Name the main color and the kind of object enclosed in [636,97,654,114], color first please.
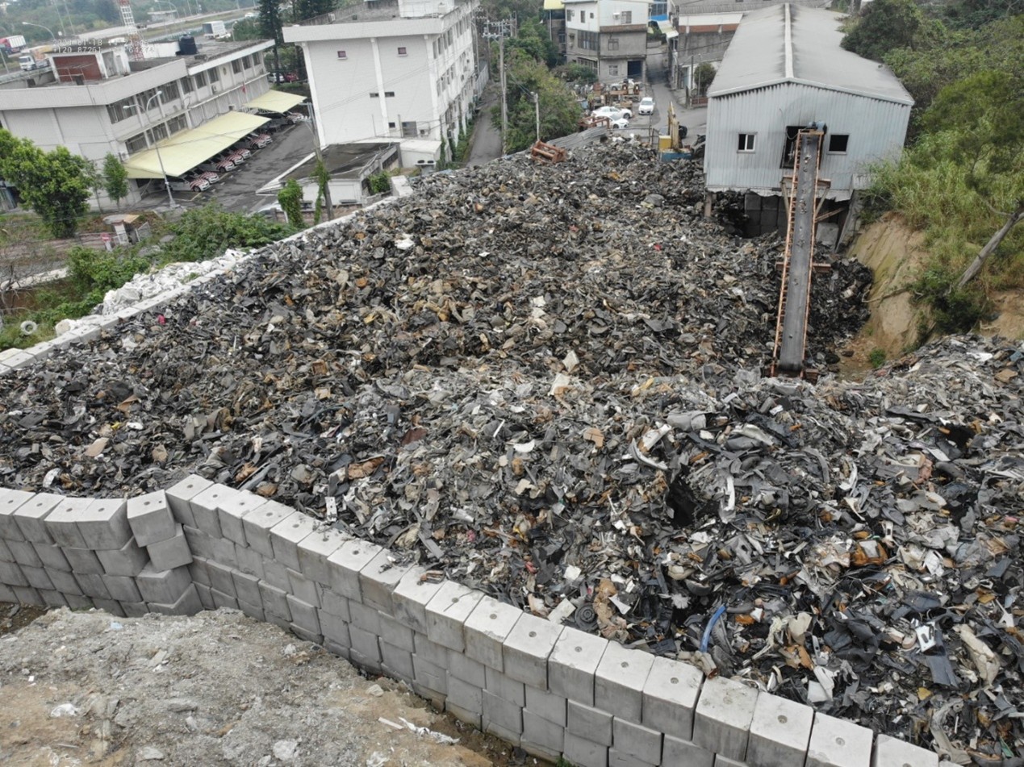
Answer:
white car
